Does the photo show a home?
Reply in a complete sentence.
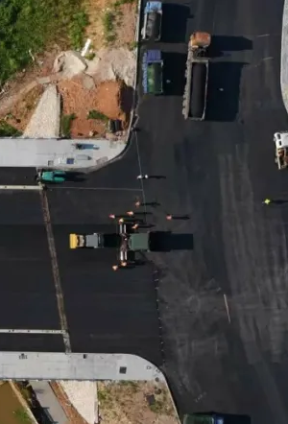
No, the scene contains no home.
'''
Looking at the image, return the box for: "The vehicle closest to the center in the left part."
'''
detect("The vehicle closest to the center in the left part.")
[70,235,105,249]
